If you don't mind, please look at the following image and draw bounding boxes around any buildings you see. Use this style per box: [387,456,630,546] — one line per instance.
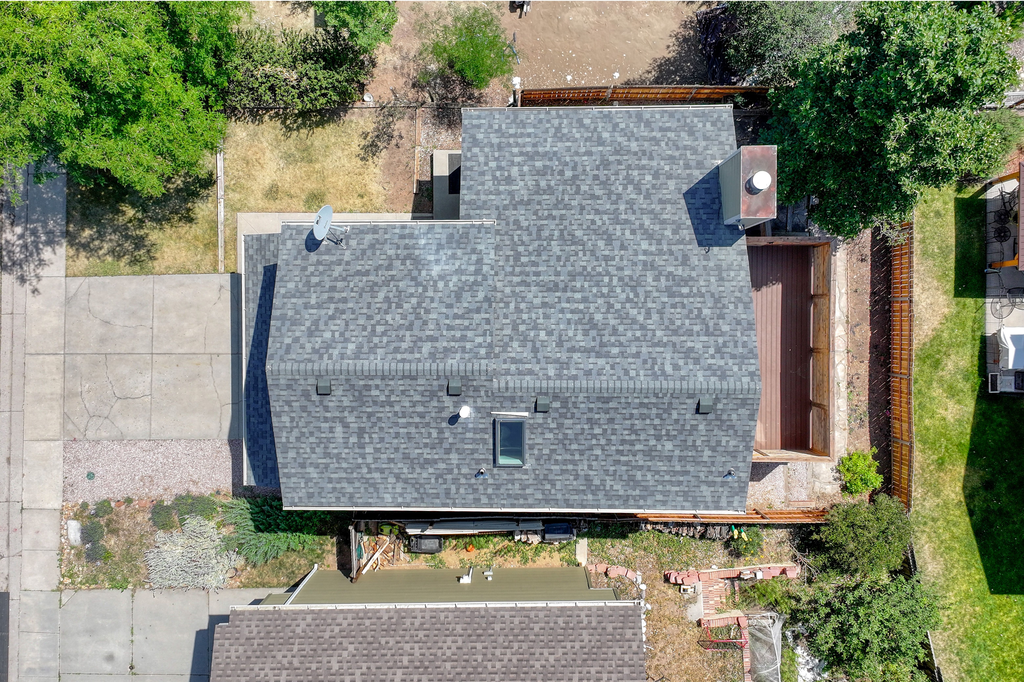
[202,564,646,682]
[241,103,777,515]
